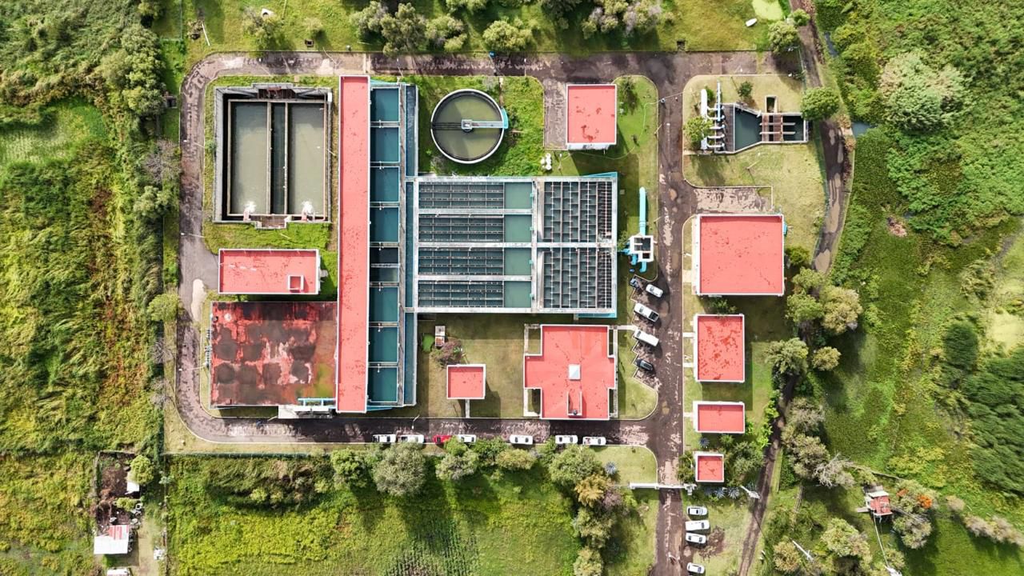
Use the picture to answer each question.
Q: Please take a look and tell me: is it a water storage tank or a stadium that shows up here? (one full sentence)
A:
This aerial view contains a water storage tank.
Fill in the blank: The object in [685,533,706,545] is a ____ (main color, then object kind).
white vehicle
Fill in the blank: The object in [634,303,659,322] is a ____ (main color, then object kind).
white vehicle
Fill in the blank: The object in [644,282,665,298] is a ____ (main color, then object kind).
white car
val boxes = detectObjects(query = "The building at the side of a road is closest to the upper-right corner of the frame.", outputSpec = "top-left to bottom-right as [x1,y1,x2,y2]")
[694,214,790,296]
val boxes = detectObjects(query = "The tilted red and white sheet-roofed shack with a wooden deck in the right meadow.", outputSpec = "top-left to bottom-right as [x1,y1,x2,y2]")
[848,481,891,517]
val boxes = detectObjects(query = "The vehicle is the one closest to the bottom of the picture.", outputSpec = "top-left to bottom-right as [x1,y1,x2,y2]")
[686,561,705,574]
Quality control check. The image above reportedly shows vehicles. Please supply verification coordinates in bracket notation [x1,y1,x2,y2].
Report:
[582,435,605,445]
[629,276,644,290]
[635,358,654,373]
[644,282,665,298]
[555,434,577,445]
[458,434,477,443]
[401,433,425,444]
[373,433,397,444]
[510,434,532,444]
[686,561,705,574]
[434,434,453,443]
[686,506,707,517]
[685,533,706,545]
[634,303,659,322]
[684,519,710,531]
[633,328,658,347]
